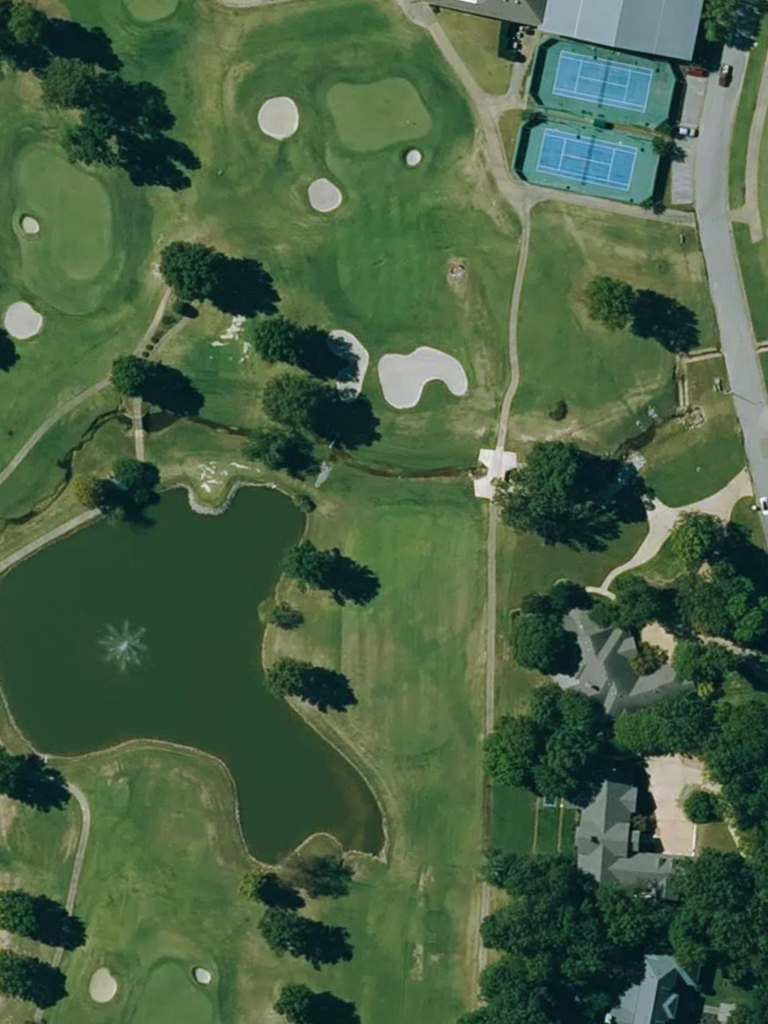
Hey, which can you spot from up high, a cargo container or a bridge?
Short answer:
bridge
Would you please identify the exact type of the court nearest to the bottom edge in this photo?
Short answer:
tennis court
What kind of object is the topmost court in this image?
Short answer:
tennis court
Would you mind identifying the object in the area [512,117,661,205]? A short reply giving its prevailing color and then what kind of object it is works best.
blue tennis court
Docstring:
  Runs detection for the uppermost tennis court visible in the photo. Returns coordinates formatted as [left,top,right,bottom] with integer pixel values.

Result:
[528,35,679,130]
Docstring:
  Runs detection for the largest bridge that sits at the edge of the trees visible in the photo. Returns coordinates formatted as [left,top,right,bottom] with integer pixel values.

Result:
[474,448,513,500]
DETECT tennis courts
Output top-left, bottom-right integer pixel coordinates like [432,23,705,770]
[528,35,679,130]
[512,117,661,205]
